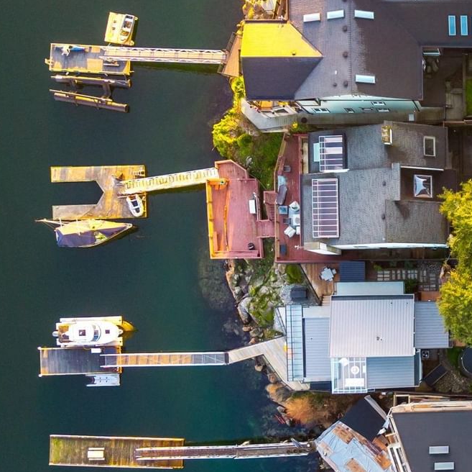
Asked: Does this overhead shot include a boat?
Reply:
Yes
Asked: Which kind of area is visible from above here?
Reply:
residential area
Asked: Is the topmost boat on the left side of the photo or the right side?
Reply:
left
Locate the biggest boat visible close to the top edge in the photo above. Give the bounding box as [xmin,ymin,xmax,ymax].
[102,9,138,44]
